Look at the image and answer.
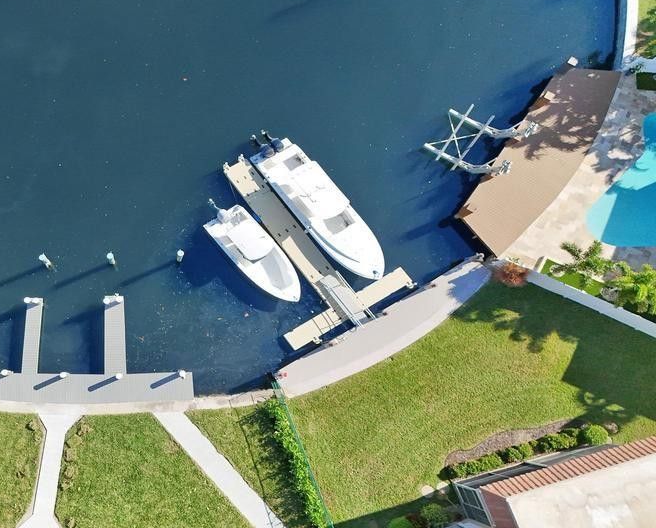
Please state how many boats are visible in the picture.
2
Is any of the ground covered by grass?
Yes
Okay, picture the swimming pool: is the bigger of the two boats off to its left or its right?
left of it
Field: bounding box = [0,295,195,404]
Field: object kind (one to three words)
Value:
pier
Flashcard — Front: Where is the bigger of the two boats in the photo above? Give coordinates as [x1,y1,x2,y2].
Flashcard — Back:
[245,128,387,280]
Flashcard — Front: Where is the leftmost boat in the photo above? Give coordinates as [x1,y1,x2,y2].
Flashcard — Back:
[204,194,302,304]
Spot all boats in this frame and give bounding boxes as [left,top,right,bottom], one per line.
[245,128,387,280]
[204,194,302,304]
